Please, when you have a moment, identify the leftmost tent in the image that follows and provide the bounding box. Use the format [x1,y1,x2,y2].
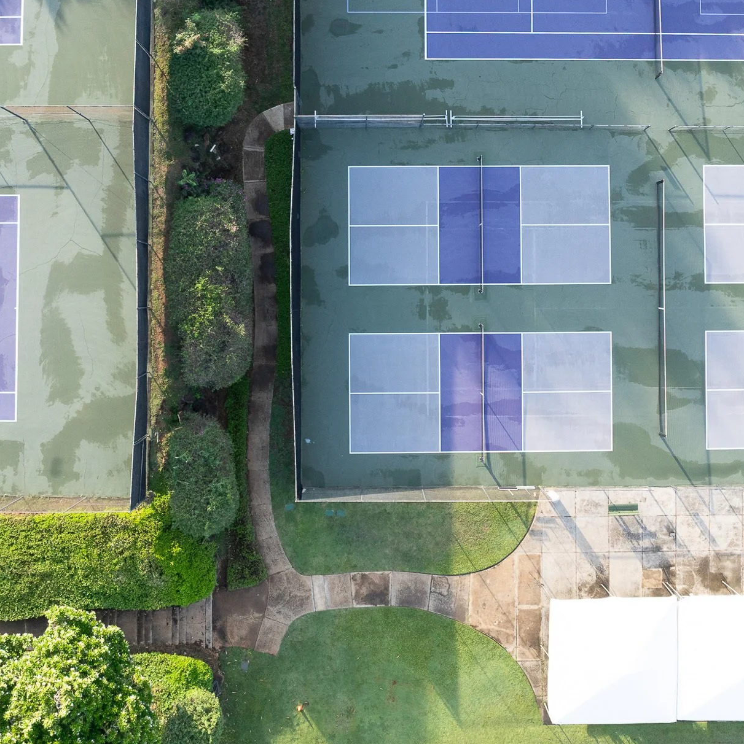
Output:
[540,583,676,725]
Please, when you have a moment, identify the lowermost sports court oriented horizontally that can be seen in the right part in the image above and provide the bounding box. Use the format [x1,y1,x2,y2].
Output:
[348,332,613,455]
